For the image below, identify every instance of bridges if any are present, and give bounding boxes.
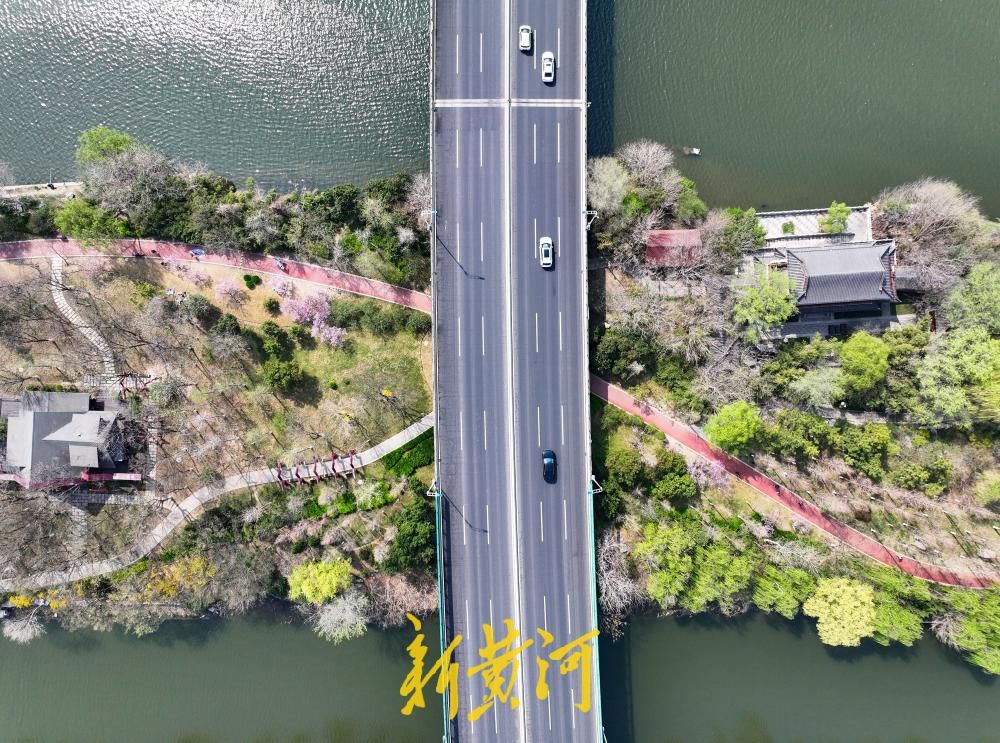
[430,0,606,743]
